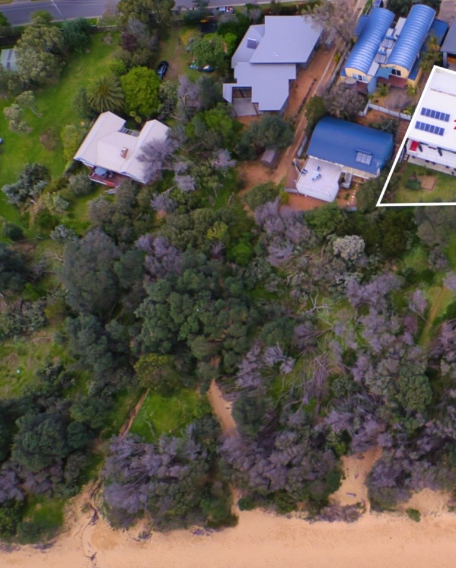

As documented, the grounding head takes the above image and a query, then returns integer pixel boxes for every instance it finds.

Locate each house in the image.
[74,111,172,193]
[341,0,449,103]
[406,67,456,176]
[286,120,393,203]
[222,16,322,116]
